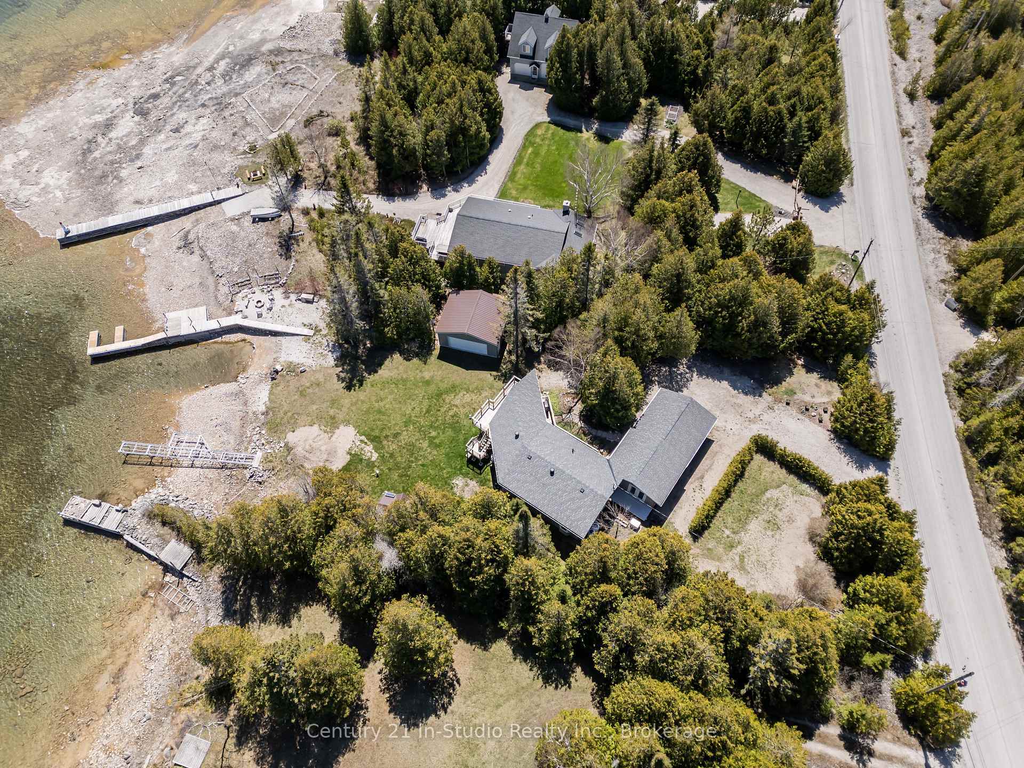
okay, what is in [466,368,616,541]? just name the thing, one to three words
house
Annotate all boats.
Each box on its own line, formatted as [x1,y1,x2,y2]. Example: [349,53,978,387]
[246,206,281,218]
